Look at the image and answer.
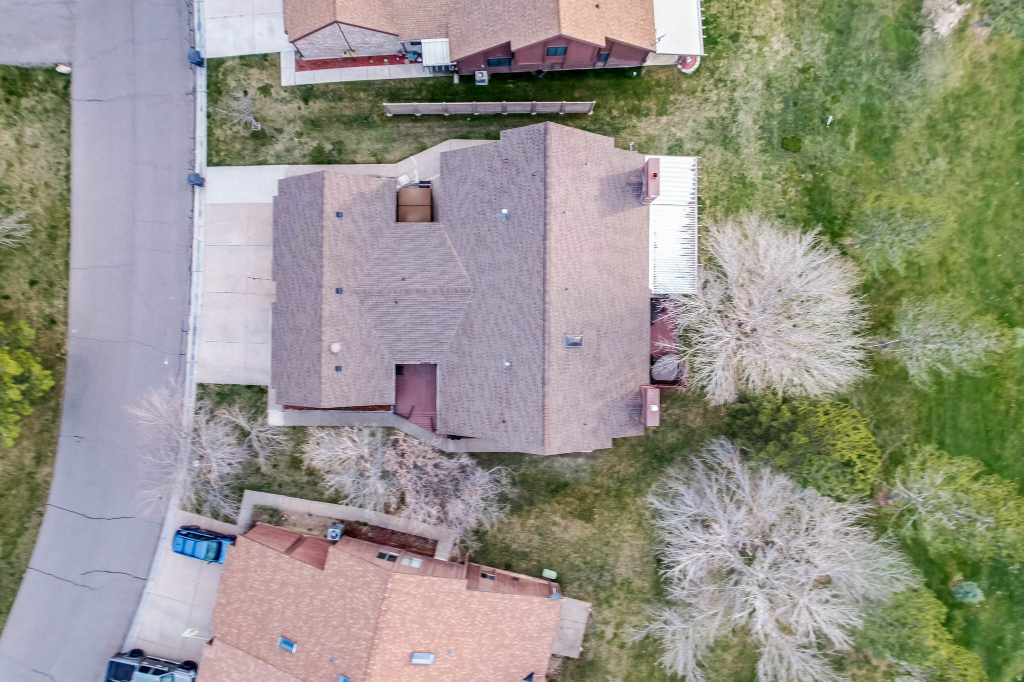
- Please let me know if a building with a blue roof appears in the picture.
No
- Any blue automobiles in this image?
Yes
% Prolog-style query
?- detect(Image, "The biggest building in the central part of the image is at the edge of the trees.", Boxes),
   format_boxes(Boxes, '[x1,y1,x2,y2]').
[270,121,660,455]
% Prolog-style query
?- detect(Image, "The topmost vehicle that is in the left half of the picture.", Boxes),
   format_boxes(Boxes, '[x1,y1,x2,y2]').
[168,527,236,570]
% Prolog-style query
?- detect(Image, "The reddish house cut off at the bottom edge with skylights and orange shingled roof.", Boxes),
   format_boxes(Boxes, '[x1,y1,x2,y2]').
[196,522,564,682]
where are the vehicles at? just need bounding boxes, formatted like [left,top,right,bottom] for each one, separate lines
[168,527,236,570]
[105,651,197,682]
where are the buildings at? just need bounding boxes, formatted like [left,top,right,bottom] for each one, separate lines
[283,0,656,75]
[196,522,564,682]
[270,121,660,455]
